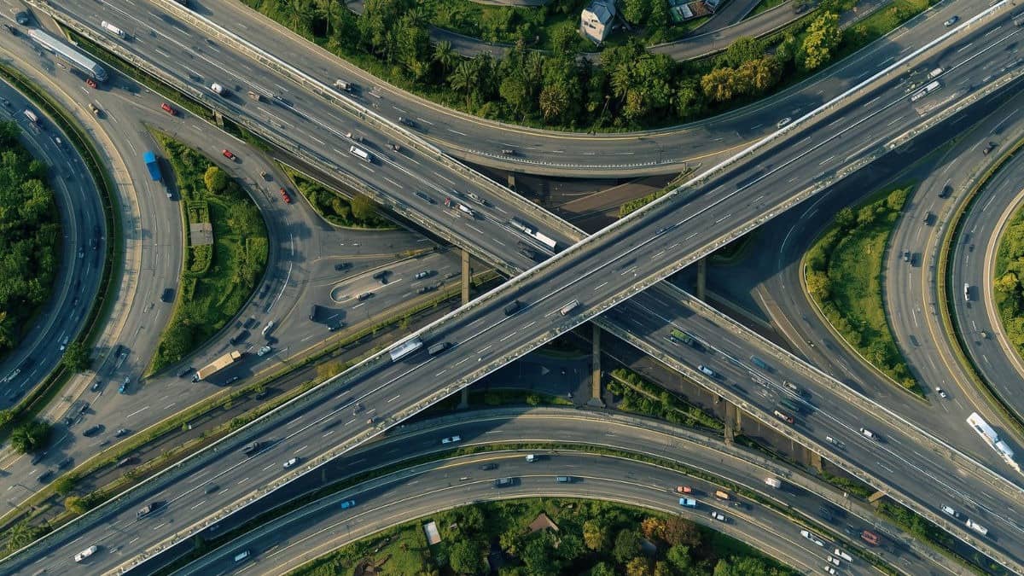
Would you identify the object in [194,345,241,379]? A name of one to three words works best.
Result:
truck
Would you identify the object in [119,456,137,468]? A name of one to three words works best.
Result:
vehicle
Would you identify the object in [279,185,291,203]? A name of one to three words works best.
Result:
vehicle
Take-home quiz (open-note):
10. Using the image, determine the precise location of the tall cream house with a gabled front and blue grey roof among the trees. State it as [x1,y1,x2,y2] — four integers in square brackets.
[583,0,619,42]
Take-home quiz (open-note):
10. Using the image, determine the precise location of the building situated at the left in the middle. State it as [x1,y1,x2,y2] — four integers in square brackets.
[188,224,213,249]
